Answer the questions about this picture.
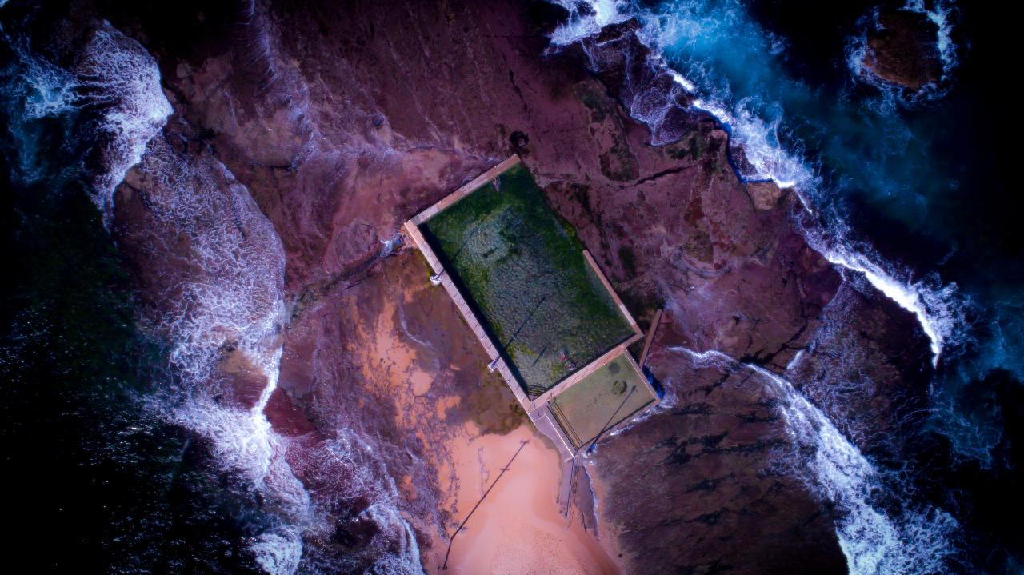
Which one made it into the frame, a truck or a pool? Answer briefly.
pool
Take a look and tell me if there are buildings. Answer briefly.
No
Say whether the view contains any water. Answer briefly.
Yes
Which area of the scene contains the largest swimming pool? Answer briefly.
center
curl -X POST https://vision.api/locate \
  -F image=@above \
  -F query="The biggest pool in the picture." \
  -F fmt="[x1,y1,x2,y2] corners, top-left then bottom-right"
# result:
[404,156,644,414]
